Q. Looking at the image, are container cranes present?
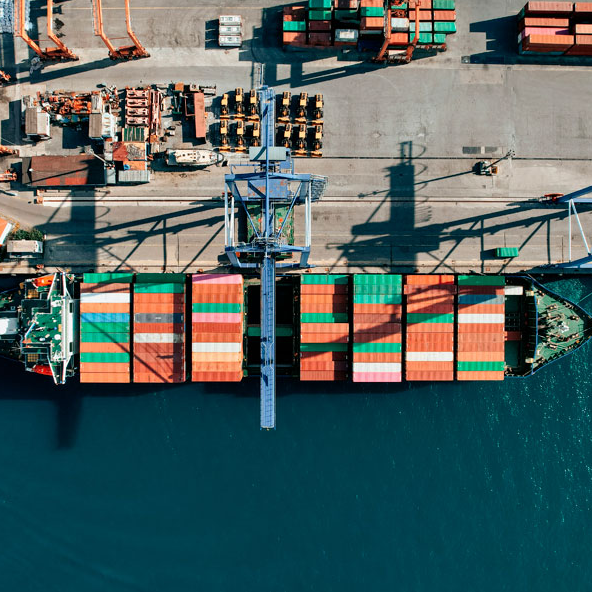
Yes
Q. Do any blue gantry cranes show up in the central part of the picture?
Yes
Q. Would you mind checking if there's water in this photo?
Yes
